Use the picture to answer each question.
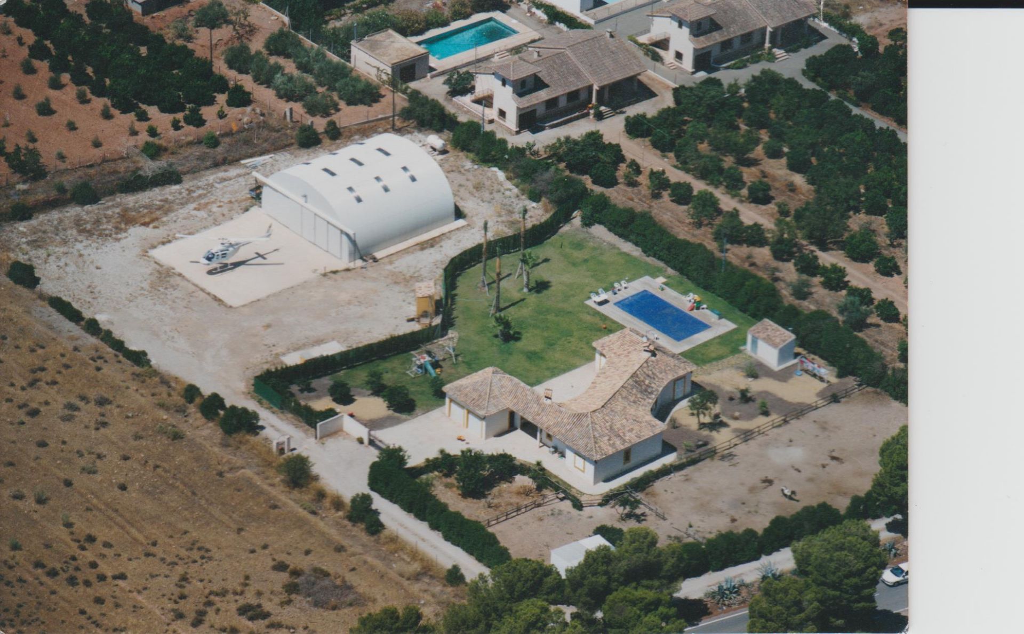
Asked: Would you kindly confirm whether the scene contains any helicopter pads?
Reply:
Yes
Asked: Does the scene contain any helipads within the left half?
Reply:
Yes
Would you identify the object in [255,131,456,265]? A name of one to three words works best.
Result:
hangar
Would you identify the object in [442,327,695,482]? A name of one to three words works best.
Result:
house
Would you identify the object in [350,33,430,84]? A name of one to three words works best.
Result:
shed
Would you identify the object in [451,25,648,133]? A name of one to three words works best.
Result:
house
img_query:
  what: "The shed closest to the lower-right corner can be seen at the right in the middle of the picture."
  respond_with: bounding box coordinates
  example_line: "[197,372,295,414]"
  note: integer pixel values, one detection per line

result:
[743,320,798,369]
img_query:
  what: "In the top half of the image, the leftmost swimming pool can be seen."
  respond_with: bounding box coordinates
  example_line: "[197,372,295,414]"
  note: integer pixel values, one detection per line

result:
[399,10,542,76]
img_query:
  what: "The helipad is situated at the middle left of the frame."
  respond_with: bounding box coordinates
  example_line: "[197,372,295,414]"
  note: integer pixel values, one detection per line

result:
[149,206,354,308]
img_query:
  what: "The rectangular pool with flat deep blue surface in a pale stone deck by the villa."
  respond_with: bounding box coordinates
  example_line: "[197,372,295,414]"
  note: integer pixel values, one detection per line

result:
[585,275,738,354]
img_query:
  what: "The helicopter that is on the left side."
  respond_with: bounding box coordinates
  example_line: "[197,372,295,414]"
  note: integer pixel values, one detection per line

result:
[176,223,275,269]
